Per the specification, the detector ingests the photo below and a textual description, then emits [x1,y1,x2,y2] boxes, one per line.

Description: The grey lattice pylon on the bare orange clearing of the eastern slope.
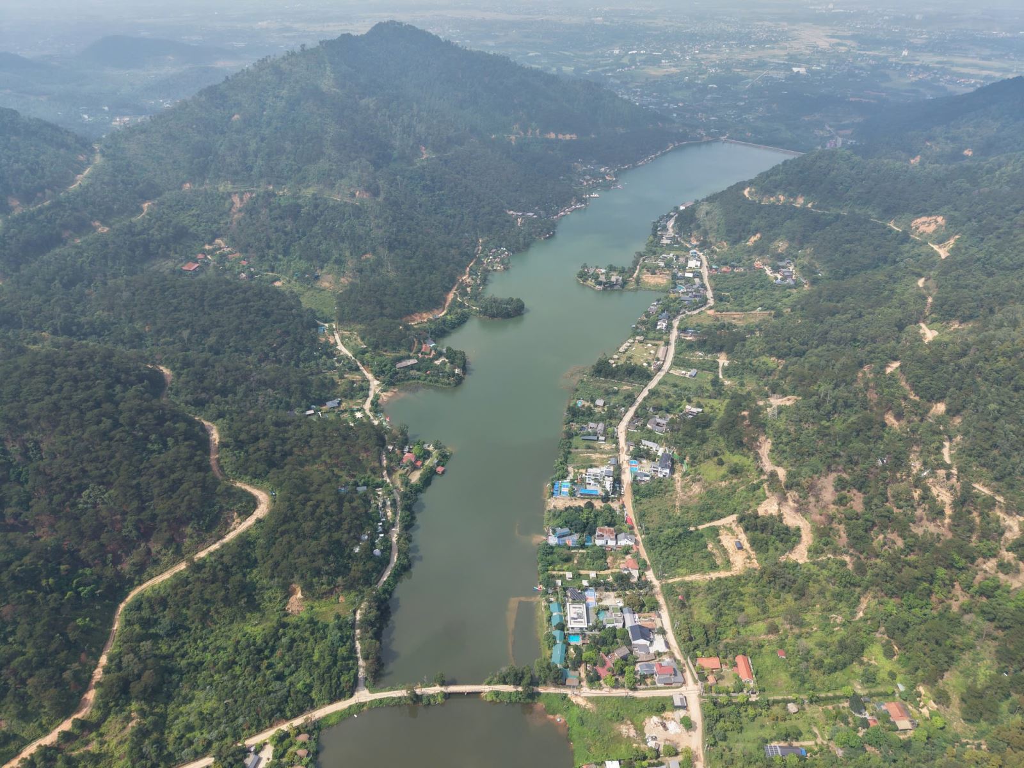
[768,391,786,422]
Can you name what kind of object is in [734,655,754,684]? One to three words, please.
house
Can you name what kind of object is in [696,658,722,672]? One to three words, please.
house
